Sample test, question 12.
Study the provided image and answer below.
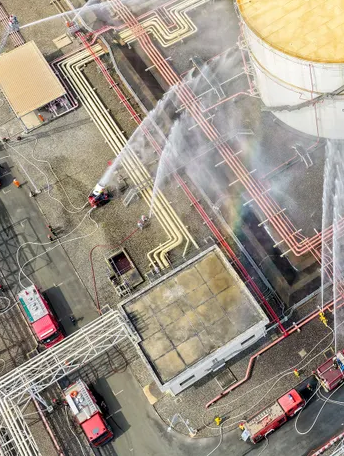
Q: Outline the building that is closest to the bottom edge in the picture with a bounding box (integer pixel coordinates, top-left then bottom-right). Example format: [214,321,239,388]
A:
[119,246,267,391]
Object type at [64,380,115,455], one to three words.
truck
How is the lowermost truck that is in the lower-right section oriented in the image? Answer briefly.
at an angle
